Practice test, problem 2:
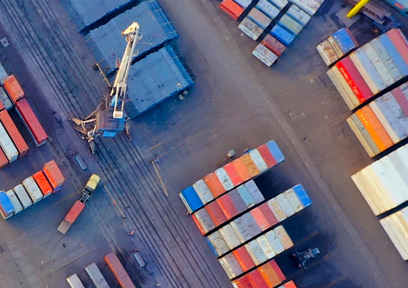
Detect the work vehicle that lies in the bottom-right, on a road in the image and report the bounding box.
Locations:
[293,241,323,272]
